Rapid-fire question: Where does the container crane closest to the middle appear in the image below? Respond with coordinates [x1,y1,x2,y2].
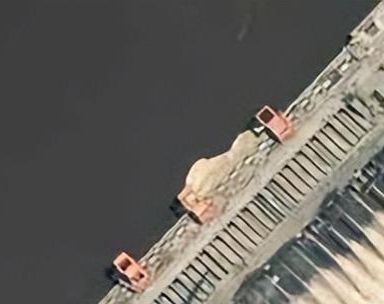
[179,186,218,225]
